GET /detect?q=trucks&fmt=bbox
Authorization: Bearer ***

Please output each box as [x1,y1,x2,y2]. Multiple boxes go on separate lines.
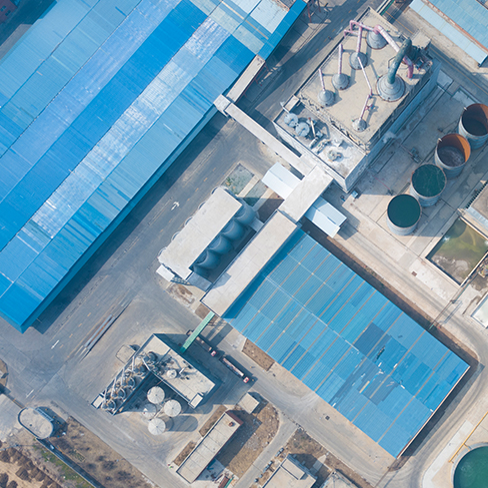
[183,330,217,358]
[219,355,249,384]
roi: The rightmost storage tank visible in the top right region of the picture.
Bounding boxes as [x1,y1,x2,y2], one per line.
[458,104,488,148]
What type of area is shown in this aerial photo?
industrial area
